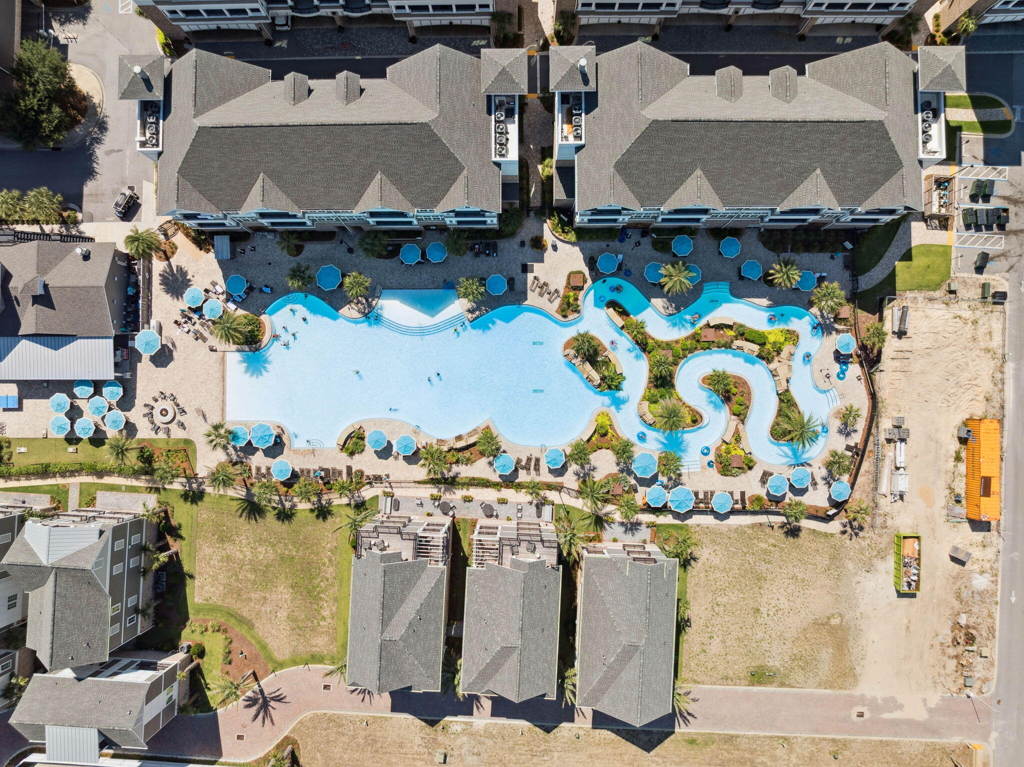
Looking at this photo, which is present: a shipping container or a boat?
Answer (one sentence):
The image shows a shipping container.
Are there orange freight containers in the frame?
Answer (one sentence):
Yes, the frame does contain an orange freight container.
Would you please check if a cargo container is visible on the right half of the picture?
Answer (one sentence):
Yes, you'll find a cargo container on the right half of the picture.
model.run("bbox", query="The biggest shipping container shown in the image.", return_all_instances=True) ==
[964,418,999,521]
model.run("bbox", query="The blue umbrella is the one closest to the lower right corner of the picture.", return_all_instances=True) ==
[828,480,851,502]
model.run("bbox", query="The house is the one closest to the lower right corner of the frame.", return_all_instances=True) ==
[571,533,679,728]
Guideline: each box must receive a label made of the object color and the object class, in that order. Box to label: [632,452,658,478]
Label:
blue umbrella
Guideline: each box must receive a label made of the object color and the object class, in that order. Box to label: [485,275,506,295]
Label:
blue umbrella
